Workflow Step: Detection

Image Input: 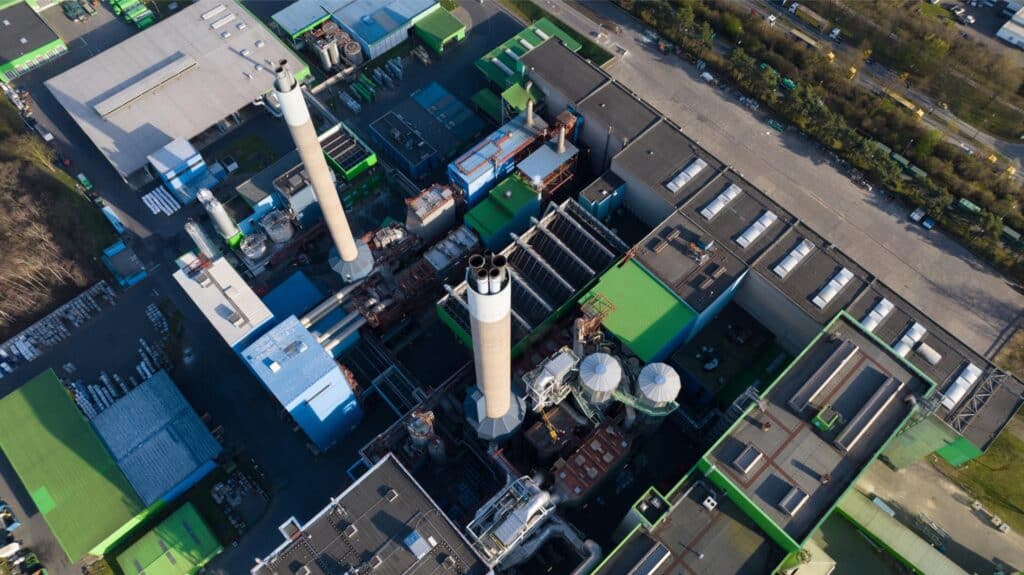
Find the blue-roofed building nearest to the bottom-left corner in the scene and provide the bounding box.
[93,370,229,510]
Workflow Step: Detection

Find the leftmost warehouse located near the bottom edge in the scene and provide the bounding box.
[0,365,156,564]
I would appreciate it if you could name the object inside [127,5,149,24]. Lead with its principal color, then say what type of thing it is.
green vehicle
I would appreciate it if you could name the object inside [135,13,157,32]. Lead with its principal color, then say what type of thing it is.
green vehicle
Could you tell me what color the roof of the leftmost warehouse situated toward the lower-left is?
green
